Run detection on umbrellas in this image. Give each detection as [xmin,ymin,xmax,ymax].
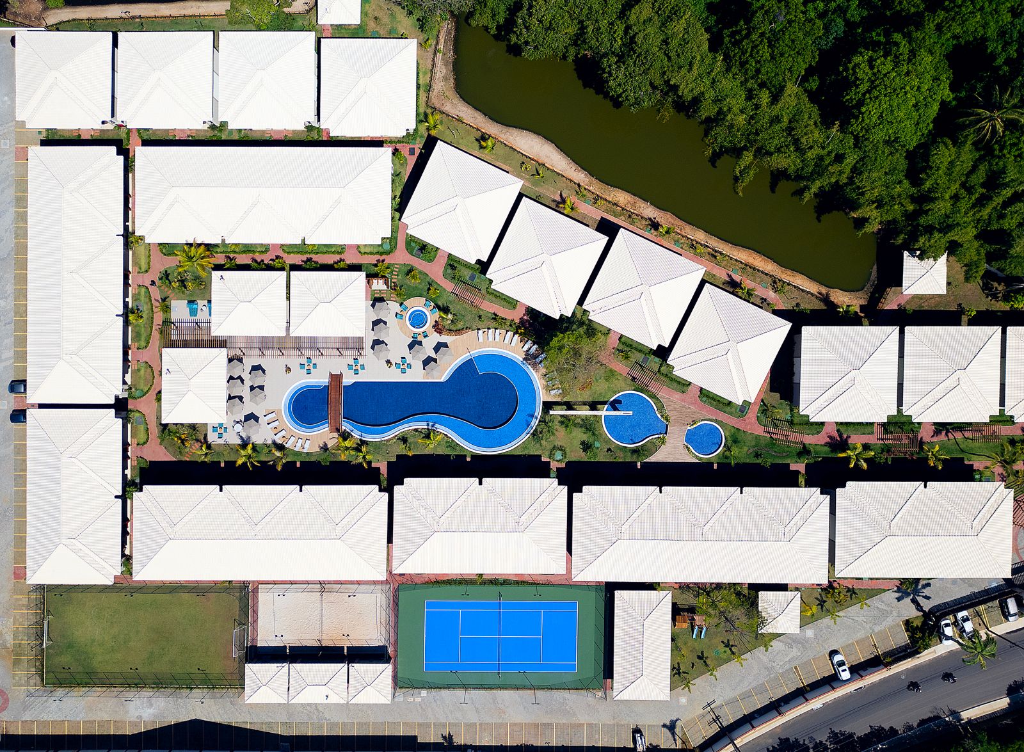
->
[437,346,453,364]
[374,302,392,318]
[228,379,246,395]
[245,419,261,437]
[228,359,246,377]
[411,345,428,361]
[373,343,391,360]
[250,369,267,385]
[374,322,391,340]
[251,387,267,405]
[426,360,441,378]
[227,398,245,415]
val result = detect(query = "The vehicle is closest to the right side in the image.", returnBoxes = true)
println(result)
[1000,597,1019,624]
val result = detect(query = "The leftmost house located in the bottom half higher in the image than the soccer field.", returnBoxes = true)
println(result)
[26,408,131,585]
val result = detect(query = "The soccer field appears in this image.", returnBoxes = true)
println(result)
[43,583,249,687]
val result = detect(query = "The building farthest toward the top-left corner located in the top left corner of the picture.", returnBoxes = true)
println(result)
[15,31,127,129]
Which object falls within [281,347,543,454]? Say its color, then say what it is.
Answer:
blue swimming pool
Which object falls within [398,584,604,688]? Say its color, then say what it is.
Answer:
blue tennis court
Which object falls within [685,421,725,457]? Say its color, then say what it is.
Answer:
blue swimming pool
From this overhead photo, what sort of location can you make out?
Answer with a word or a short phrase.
residential area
